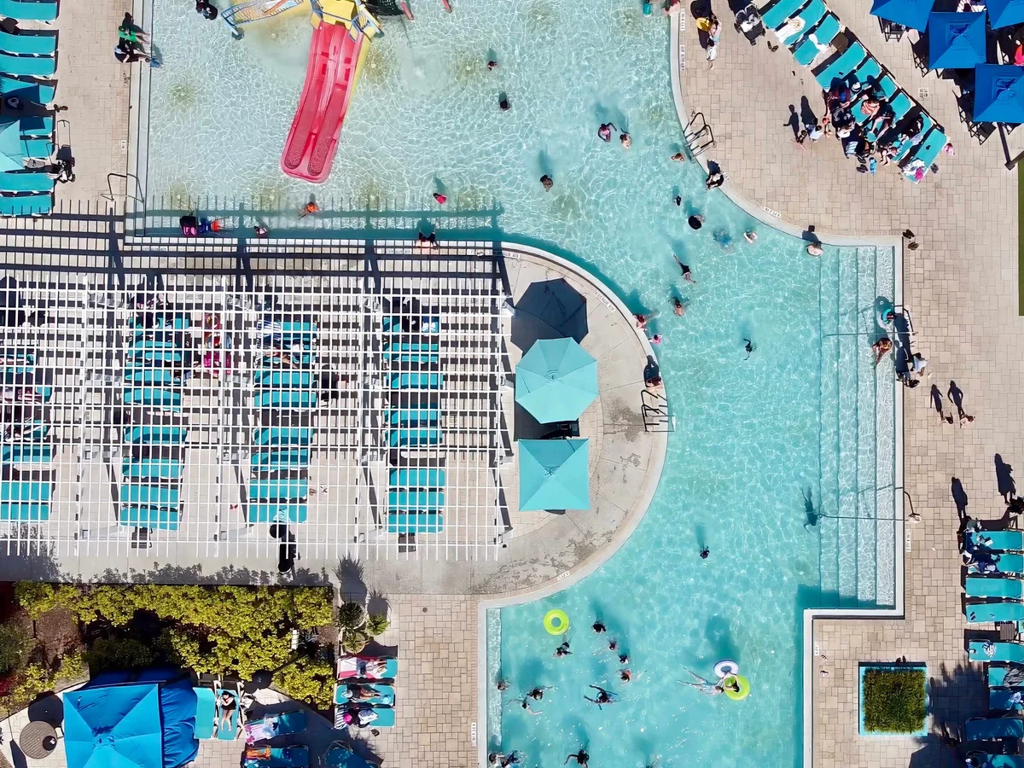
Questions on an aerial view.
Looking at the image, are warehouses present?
No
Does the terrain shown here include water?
Yes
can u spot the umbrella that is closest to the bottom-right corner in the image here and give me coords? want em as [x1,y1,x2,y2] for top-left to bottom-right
[521,440,589,508]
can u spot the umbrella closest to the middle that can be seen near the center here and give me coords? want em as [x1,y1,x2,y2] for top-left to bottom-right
[514,338,601,425]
